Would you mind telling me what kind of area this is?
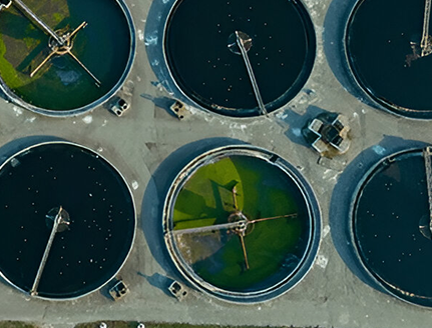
industrial area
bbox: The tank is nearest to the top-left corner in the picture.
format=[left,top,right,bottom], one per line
[0,0,136,117]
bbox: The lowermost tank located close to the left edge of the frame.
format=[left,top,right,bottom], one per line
[0,141,137,299]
